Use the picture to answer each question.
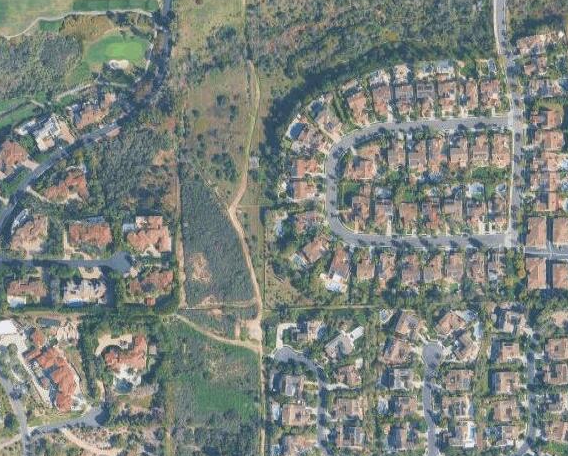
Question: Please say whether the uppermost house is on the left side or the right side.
right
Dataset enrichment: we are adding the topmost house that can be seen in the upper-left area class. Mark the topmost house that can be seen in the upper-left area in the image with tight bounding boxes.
[74,88,119,131]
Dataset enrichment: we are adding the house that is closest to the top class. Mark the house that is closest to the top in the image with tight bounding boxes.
[515,31,556,54]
